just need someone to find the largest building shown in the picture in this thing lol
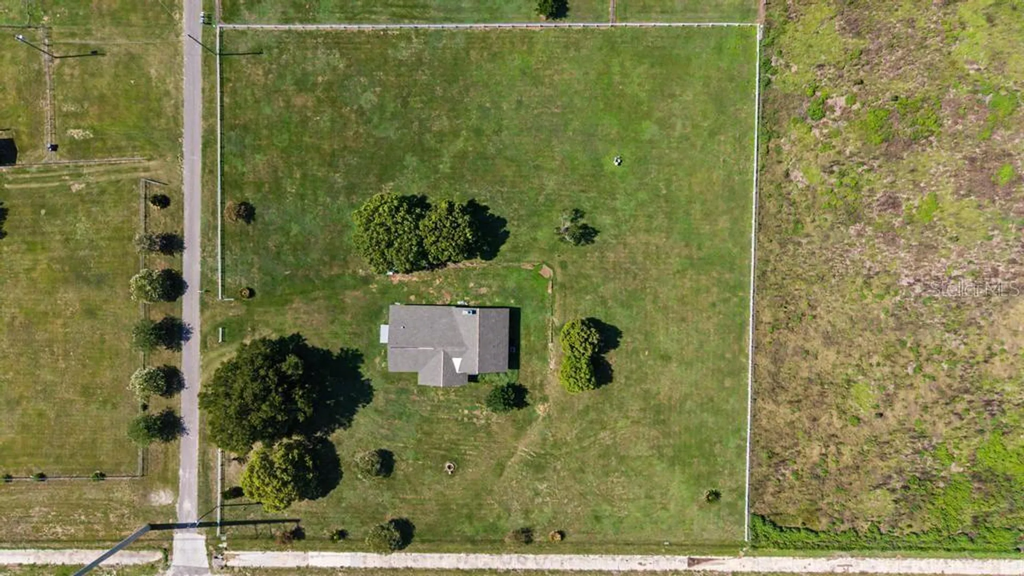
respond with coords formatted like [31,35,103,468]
[380,304,509,387]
